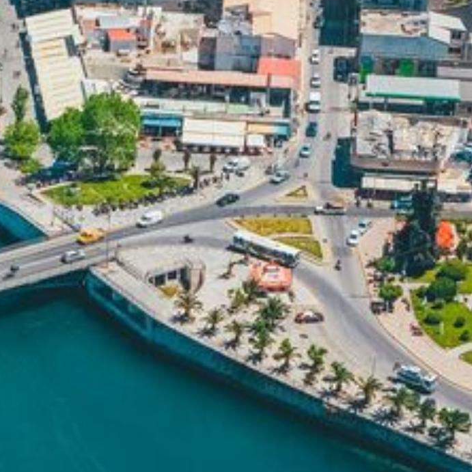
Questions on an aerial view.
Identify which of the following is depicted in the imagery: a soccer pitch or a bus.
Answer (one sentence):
There is a bus in the scene.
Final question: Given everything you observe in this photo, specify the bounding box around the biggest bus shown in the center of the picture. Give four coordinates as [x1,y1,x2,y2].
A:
[231,228,300,268]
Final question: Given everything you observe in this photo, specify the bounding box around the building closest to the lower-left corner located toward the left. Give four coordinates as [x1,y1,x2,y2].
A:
[147,262,203,294]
